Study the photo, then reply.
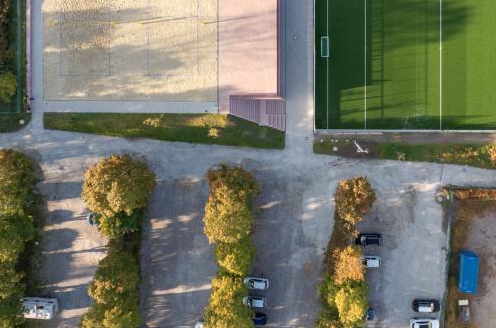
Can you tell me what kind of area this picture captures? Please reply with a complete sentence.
What you see here is a sports ground.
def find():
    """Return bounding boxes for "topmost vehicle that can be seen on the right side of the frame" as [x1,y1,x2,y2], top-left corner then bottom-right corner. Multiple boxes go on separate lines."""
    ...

[354,231,383,246]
